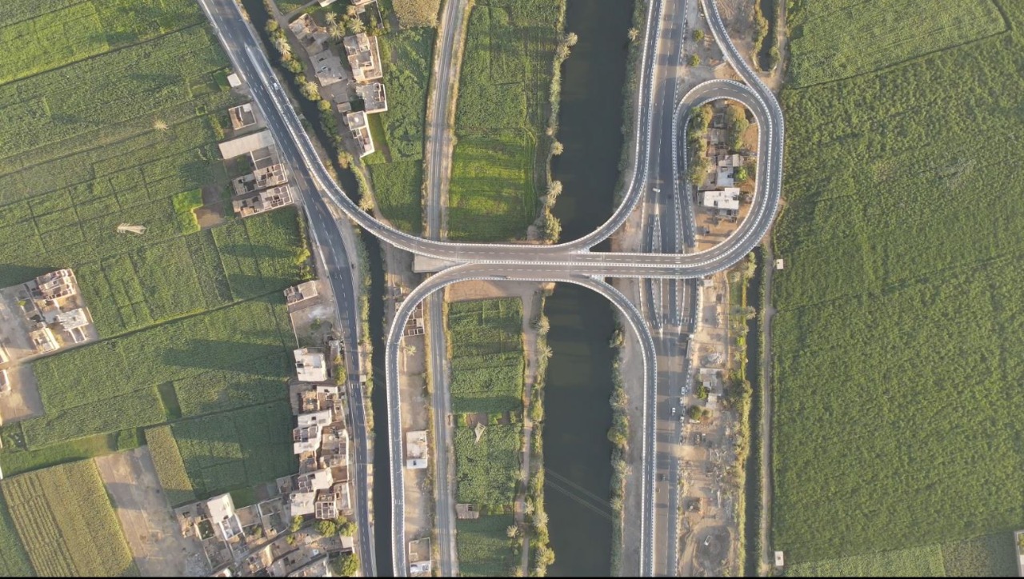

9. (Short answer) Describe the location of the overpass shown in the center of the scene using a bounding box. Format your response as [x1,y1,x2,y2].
[241,0,784,579]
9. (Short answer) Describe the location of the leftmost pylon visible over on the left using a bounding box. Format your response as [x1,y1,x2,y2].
[116,222,147,236]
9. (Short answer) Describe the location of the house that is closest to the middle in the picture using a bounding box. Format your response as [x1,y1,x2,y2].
[396,300,425,336]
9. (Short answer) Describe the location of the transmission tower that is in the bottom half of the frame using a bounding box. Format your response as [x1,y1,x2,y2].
[473,423,487,446]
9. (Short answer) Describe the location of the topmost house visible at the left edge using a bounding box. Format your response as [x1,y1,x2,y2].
[37,269,85,300]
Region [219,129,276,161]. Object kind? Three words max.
hangar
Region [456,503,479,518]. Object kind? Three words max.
shed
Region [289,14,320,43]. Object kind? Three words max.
house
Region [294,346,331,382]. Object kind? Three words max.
house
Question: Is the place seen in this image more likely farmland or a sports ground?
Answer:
farmland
